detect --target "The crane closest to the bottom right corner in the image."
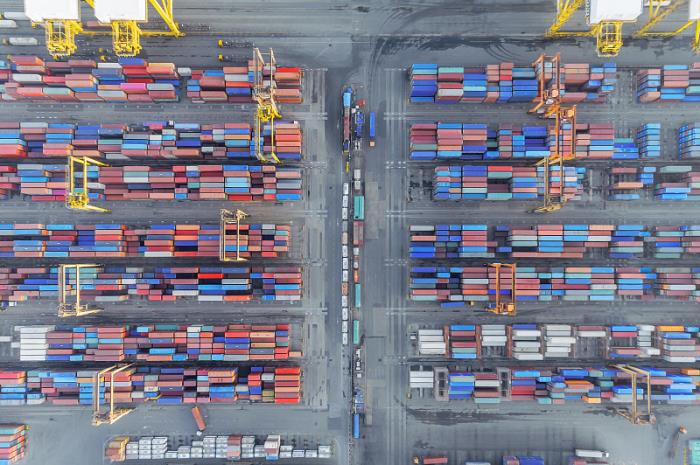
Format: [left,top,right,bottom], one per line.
[602,362,654,432]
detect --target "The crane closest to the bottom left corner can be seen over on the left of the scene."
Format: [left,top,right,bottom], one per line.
[93,362,141,432]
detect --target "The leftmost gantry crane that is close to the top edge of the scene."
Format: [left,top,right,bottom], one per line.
[27,0,111,61]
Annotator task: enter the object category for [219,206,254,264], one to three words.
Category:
crane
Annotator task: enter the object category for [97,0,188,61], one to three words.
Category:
container crane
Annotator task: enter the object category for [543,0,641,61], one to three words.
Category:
container crane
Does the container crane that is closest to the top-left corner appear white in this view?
Yes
